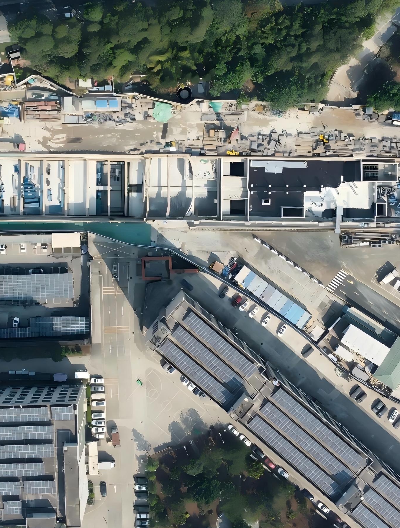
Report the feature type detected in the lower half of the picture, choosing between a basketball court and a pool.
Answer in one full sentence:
What appears in the lower half of the picture is a basketball court.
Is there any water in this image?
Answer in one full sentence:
No, there's no water in this view.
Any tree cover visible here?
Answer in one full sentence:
Yes, there's tree cover in this view.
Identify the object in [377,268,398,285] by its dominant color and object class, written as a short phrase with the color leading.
white vehicle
